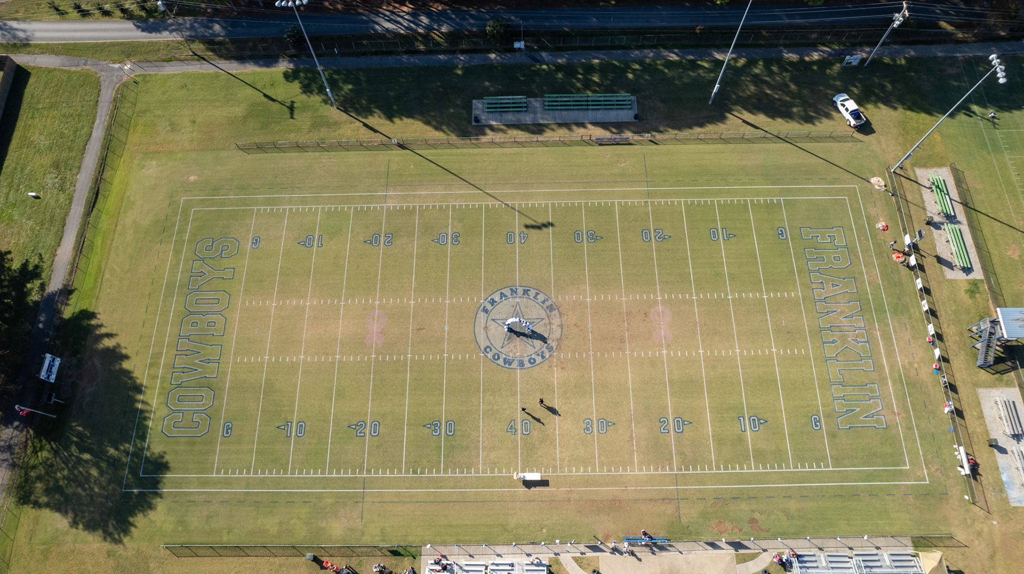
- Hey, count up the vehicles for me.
1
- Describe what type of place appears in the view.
sports ground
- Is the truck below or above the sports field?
above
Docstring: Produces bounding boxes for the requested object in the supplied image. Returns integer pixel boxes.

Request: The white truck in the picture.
[833,93,867,129]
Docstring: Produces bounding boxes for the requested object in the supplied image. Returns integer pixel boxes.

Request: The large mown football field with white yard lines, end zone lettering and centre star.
[71,144,978,547]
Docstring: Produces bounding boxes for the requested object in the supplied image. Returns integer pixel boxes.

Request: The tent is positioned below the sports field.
[915,549,949,574]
